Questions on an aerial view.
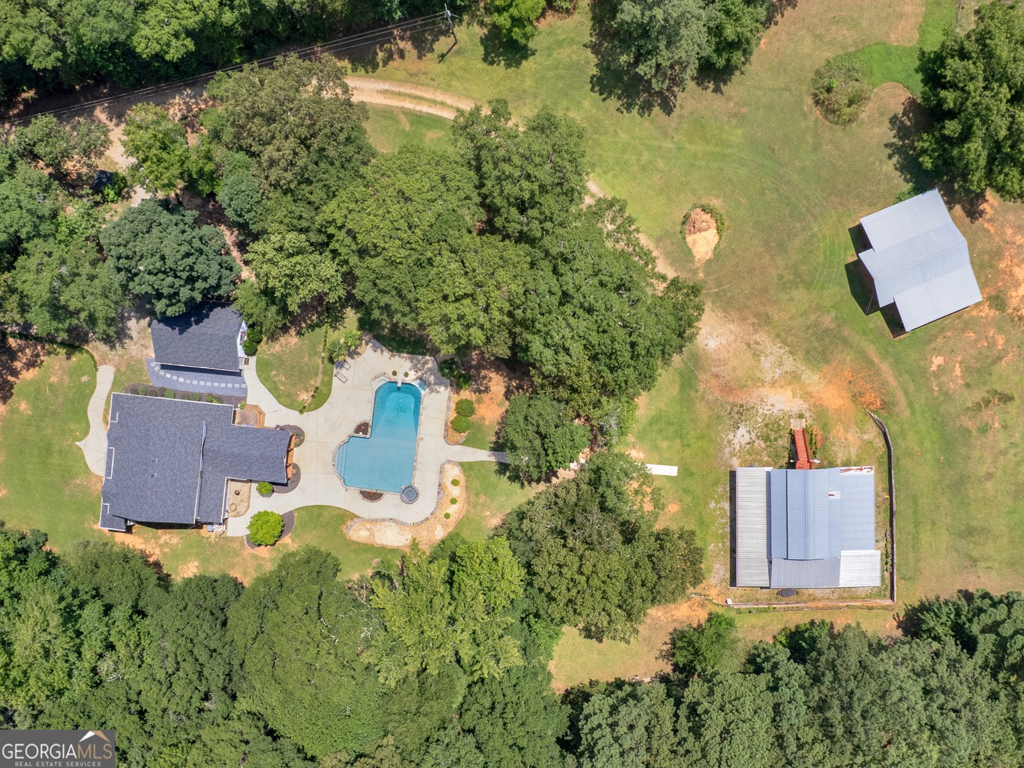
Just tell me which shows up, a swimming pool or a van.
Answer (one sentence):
Of the two, only a swimming pool appears.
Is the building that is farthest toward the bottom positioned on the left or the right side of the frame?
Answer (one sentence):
You can find the building that is farthest toward the bottom on the right side of the picture.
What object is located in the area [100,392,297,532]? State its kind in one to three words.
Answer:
house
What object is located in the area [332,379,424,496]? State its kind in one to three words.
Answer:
swimming pool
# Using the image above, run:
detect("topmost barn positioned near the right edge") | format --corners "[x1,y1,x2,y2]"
[853,188,982,331]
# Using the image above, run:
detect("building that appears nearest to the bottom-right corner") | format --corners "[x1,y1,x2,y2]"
[733,466,882,589]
